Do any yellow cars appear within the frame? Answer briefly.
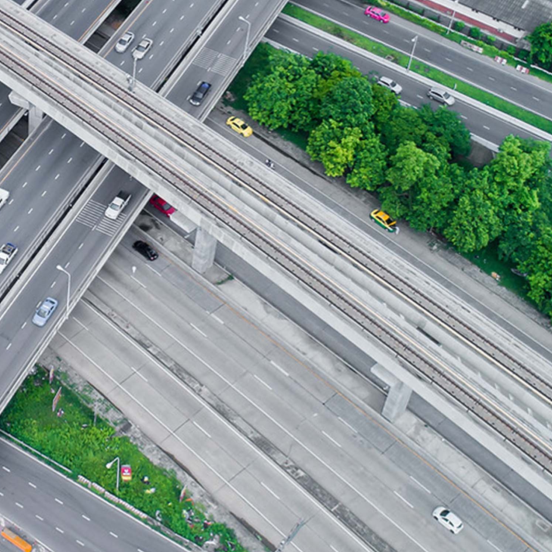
Yes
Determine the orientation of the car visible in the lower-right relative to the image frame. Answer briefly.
at an angle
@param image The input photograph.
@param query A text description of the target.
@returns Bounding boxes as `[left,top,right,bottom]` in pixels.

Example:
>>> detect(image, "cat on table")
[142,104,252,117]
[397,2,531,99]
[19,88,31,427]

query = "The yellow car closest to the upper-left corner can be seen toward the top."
[226,116,254,137]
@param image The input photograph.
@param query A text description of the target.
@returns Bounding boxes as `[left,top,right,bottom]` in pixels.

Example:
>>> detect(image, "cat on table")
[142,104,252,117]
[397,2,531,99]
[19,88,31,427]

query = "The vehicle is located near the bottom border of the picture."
[430,504,469,537]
